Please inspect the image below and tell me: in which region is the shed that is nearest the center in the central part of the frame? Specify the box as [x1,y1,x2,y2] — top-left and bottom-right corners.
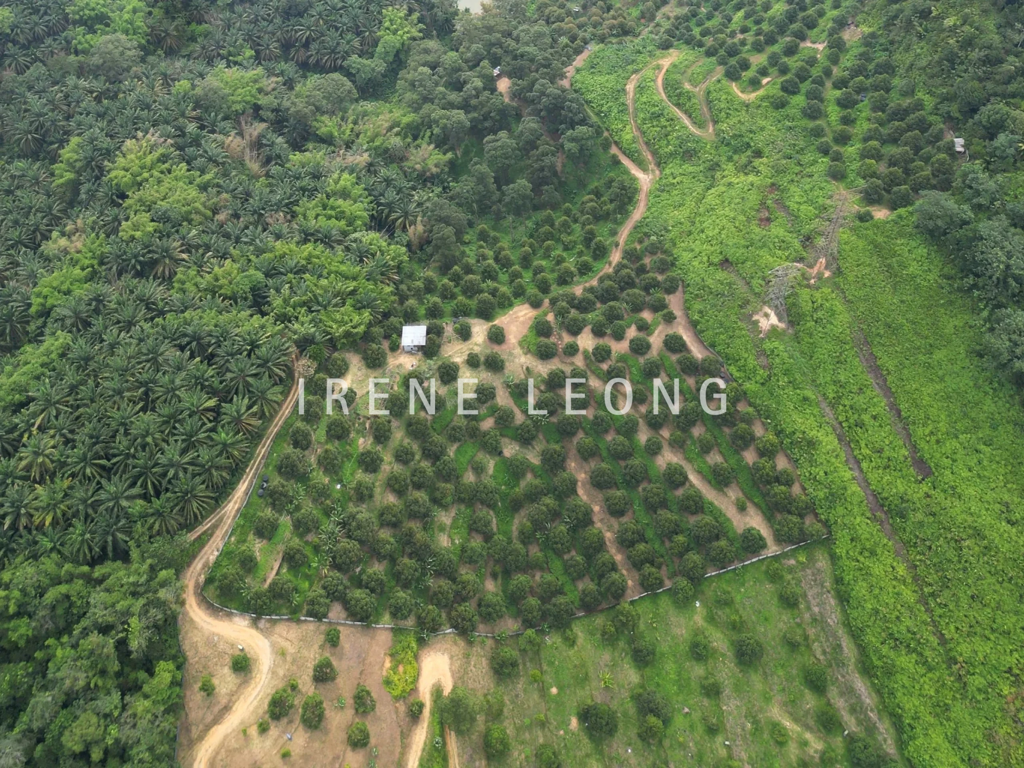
[402,326,426,352]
